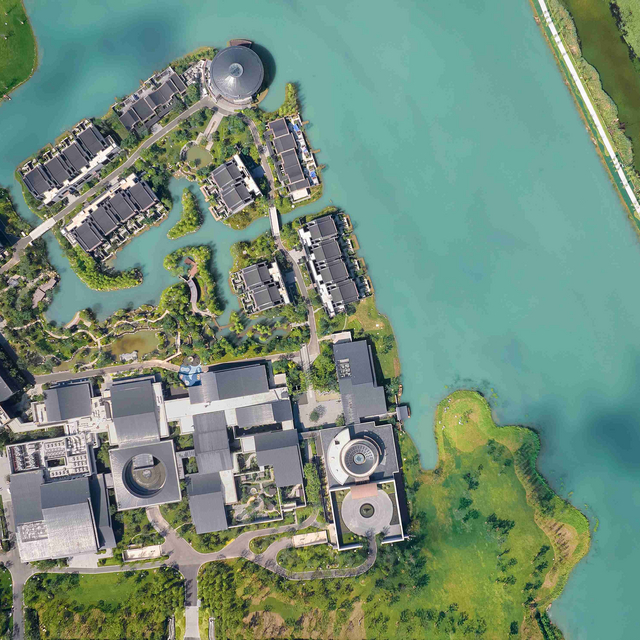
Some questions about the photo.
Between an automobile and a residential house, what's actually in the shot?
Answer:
residential house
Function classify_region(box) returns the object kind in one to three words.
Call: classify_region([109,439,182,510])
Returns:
building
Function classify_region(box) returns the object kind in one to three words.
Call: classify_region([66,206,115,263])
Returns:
house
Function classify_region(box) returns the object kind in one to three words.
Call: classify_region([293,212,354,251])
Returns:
house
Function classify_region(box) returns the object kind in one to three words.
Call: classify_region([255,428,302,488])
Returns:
building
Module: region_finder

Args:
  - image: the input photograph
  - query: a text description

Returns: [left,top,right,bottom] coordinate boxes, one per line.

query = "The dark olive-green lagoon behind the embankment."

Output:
[564,0,640,171]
